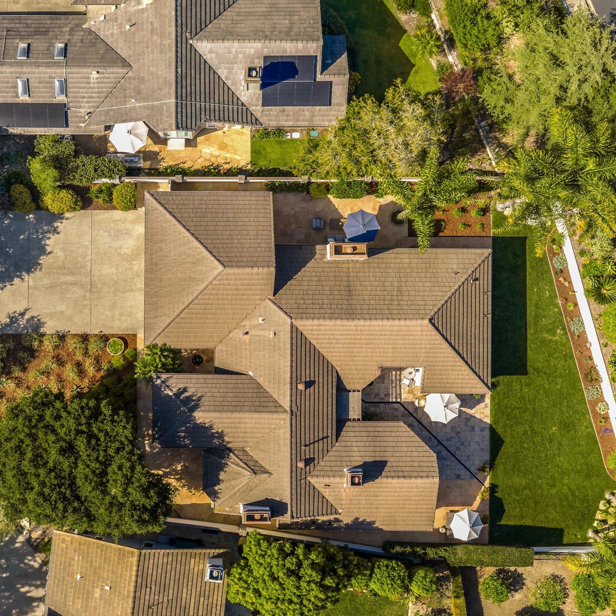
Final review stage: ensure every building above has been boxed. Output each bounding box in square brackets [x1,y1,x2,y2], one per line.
[143,190,493,533]
[0,0,351,148]
[38,526,232,616]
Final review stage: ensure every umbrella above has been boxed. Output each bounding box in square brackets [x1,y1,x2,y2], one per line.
[421,394,461,427]
[450,507,481,540]
[110,125,149,159]
[342,209,378,243]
